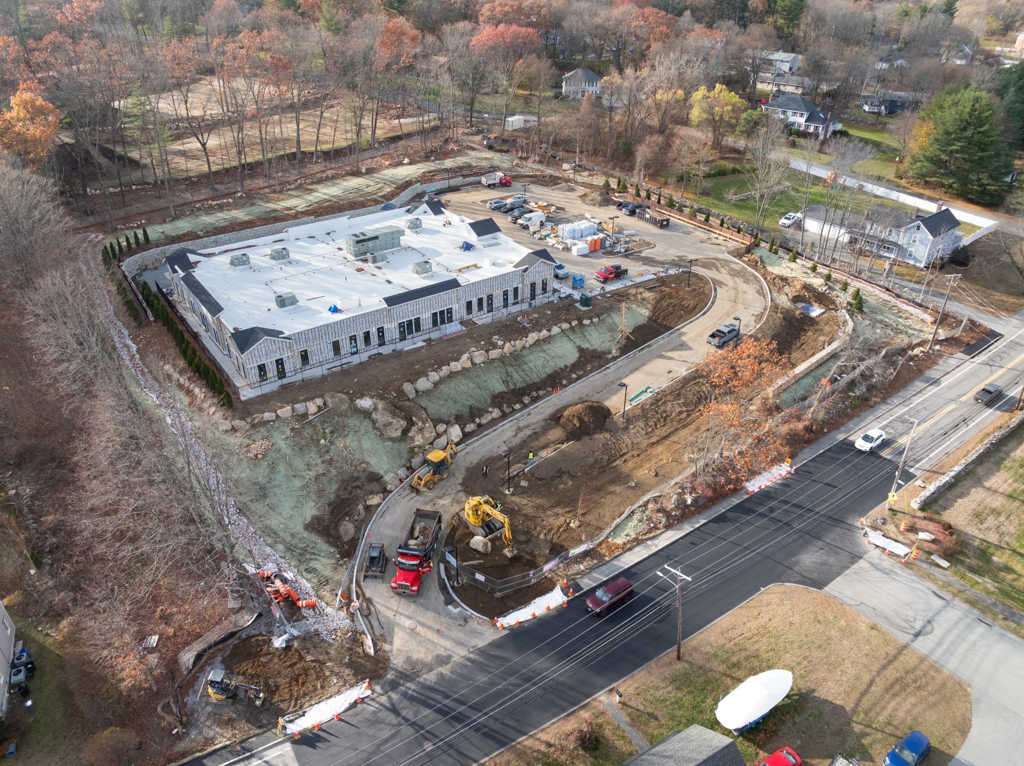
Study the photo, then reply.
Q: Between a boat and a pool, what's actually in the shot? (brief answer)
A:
boat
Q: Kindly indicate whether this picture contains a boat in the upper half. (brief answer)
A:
No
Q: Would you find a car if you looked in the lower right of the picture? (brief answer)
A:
Yes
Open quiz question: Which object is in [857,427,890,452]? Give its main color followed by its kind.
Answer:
white car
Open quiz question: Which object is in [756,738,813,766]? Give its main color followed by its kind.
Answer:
red car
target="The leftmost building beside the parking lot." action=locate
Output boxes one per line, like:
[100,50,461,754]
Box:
[175,194,559,388]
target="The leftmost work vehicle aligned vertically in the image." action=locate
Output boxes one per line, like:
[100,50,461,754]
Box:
[362,537,386,582]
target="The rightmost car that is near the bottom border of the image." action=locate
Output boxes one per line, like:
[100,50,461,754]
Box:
[886,716,936,766]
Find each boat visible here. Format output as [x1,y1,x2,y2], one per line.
[710,672,788,735]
